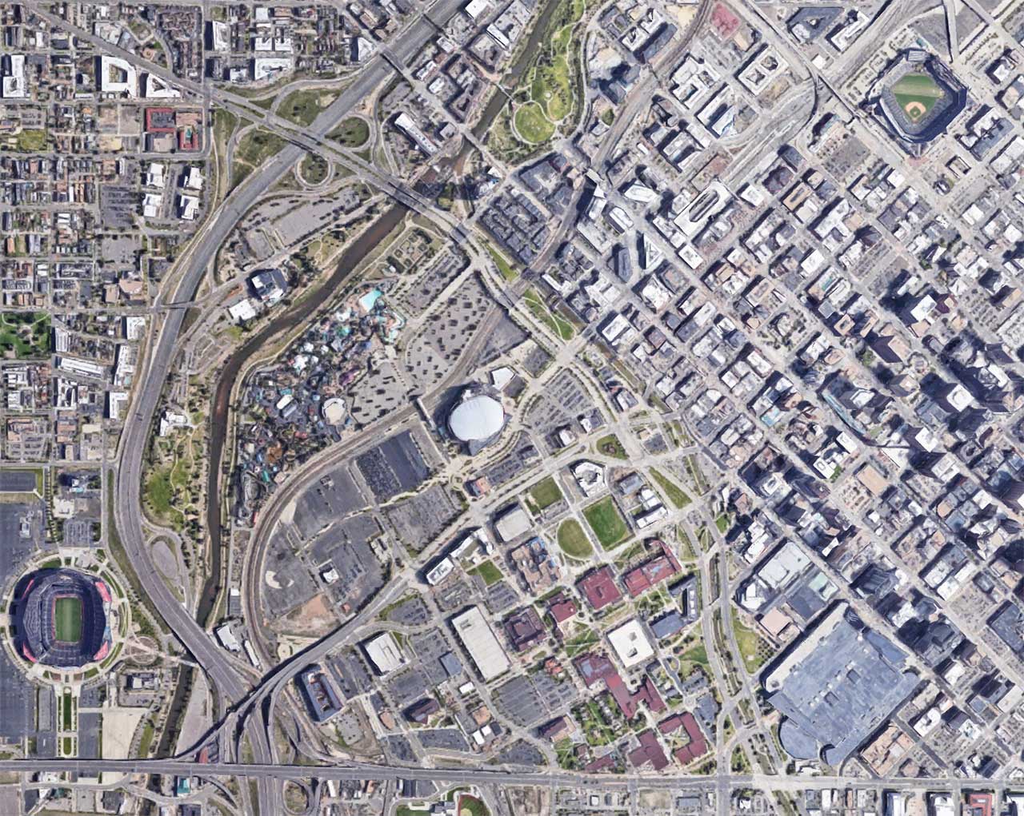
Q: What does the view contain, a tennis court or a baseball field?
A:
baseball field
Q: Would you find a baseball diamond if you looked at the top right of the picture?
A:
Yes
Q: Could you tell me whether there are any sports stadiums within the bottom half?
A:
Yes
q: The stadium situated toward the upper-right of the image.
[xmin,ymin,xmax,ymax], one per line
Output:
[865,49,970,158]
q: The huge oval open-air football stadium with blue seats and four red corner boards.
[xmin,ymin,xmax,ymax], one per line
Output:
[11,571,116,670]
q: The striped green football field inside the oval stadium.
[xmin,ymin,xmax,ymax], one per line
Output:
[55,596,82,641]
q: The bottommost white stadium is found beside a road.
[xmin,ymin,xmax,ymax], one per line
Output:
[439,387,510,457]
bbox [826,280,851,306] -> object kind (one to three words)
building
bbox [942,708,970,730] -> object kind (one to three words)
building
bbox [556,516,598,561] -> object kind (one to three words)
sports field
